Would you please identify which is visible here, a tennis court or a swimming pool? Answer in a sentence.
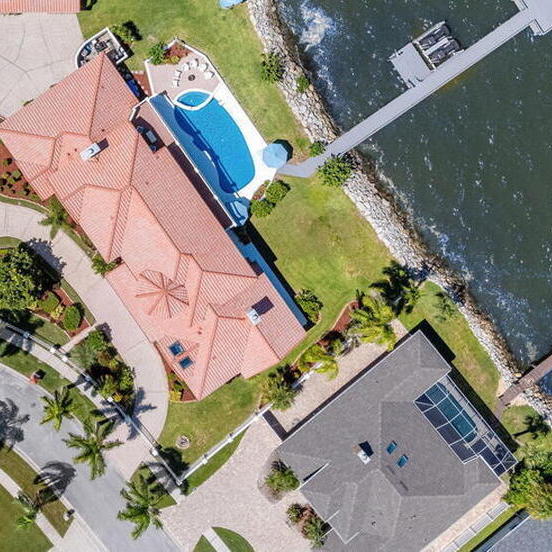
There is a swimming pool in the scene.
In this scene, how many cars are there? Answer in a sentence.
Not a single car can be seen.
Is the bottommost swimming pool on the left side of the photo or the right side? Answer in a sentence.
The bottommost swimming pool appears in the right half of the scene.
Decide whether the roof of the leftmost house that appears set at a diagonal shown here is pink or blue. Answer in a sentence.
The color of the roof of the leftmost house that appears set at a diagonal is pink.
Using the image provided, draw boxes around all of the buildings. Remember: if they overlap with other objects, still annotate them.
[276,327,502,552]
[0,0,80,15]
[0,52,306,401]
[468,504,552,552]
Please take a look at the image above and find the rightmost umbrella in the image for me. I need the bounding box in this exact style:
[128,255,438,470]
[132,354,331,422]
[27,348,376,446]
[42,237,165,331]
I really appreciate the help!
[263,143,287,167]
